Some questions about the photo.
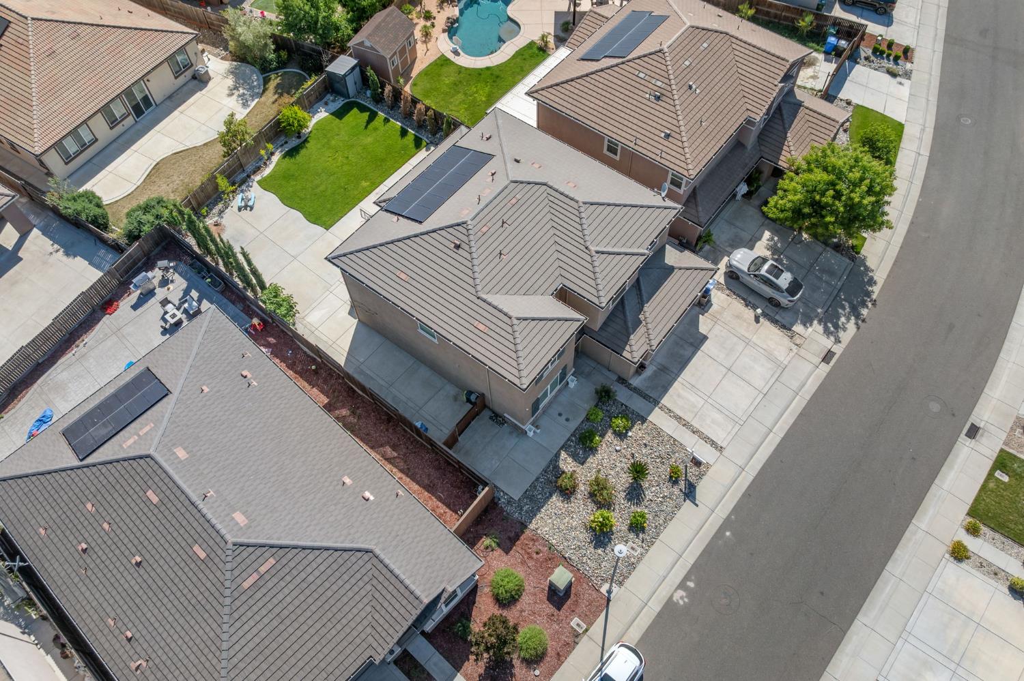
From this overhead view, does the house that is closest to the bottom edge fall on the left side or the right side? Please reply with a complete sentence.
The house that is closest to the bottom edge is on the left side of the image.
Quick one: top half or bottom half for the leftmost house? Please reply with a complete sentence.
You can find the leftmost house in the top half.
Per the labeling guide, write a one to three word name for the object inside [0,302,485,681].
house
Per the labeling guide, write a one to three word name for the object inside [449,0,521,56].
swimming pool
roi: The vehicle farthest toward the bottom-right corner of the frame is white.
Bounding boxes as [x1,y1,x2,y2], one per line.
[580,639,646,681]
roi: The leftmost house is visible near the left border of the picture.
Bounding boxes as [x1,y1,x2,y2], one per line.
[0,178,38,243]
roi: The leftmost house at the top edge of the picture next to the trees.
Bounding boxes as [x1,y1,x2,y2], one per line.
[0,0,206,178]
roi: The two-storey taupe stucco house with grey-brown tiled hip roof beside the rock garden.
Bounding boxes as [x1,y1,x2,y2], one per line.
[326,108,722,435]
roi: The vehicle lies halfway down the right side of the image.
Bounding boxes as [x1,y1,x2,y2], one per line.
[724,250,808,313]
